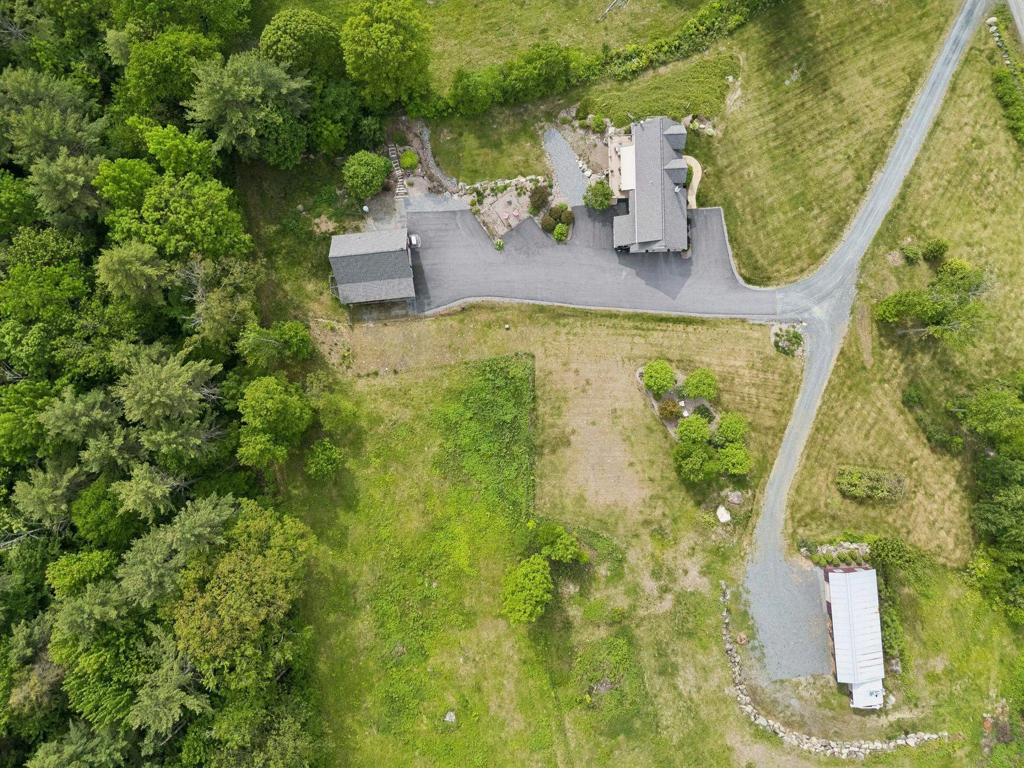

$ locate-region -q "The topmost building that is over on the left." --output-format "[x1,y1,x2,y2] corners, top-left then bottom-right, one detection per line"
[329,228,415,305]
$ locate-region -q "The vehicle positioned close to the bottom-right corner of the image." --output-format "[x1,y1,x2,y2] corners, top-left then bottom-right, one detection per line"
[845,678,885,710]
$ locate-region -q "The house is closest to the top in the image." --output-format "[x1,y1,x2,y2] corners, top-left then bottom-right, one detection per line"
[612,115,692,256]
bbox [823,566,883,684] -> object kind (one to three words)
barn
